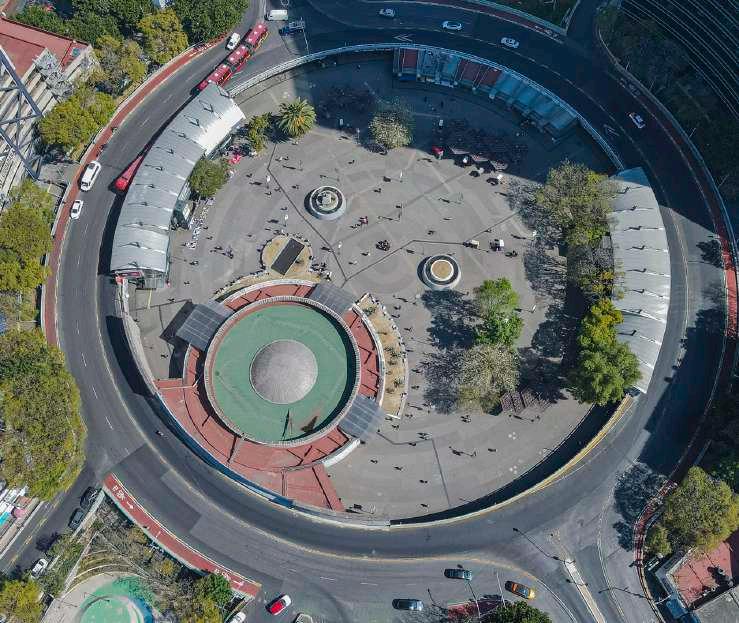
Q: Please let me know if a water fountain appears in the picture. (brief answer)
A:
Yes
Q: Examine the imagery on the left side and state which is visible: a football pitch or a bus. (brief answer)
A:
bus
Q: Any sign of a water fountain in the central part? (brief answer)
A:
Yes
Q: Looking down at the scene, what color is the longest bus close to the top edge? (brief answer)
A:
red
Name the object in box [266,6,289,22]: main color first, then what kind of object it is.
white vehicle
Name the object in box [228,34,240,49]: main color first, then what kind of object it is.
white vehicle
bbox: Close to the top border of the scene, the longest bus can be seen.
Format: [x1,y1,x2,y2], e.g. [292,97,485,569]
[191,23,271,98]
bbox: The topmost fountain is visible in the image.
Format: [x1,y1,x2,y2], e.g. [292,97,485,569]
[307,185,345,220]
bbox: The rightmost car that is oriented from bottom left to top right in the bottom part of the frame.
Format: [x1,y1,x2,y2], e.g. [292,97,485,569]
[265,593,292,615]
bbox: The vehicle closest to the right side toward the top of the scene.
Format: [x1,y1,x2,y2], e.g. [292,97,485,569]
[627,113,646,130]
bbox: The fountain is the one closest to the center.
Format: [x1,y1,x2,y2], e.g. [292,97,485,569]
[421,252,461,289]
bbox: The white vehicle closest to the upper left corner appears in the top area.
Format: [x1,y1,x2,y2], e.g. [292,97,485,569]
[83,162,101,187]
